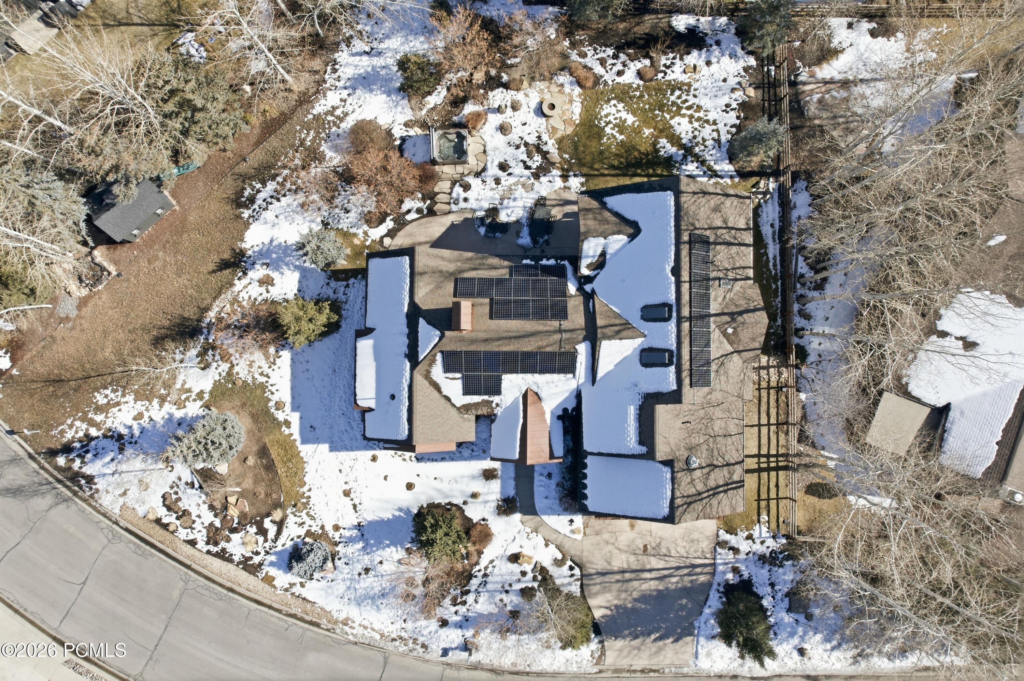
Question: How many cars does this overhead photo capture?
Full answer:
The photo contains no cars.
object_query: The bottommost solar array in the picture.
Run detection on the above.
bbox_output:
[445,350,577,395]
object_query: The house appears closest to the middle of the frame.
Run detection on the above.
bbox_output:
[354,176,770,525]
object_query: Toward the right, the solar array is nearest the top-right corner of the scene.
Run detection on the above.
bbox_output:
[692,233,711,390]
